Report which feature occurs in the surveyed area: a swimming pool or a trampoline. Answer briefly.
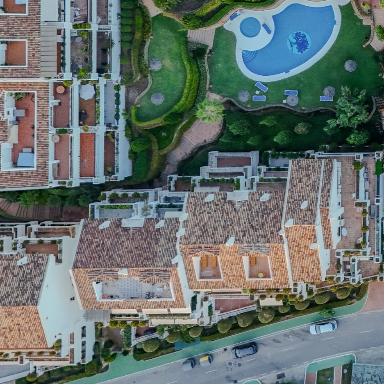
swimming pool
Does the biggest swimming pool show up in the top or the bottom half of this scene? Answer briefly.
top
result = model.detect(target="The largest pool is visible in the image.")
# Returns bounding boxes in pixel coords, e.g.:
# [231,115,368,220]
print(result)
[241,3,336,76]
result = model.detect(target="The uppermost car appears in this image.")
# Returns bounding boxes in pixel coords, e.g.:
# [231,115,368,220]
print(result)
[307,319,337,338]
